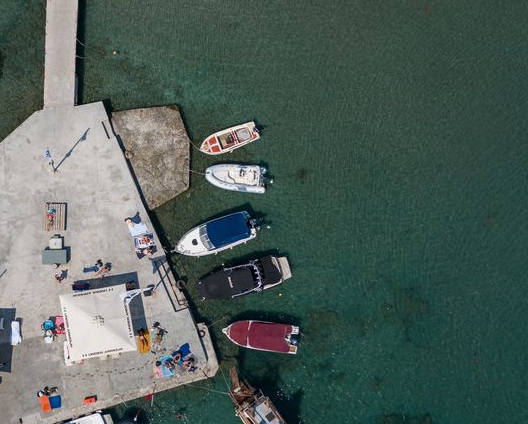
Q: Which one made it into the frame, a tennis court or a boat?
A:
boat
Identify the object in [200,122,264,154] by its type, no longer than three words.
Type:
boat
